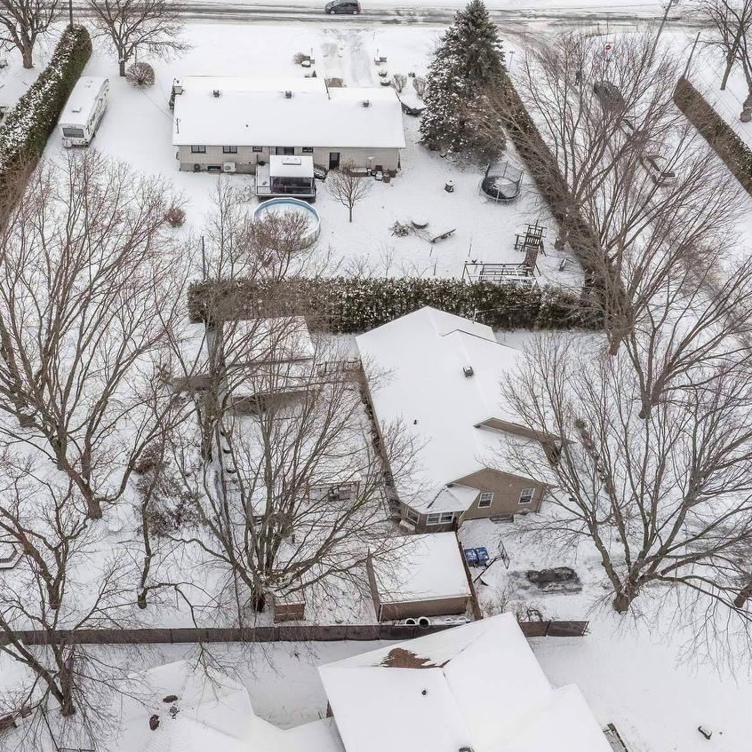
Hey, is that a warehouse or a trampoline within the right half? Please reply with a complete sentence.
Visible within the right half is a trampoline.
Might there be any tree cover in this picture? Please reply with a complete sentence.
Yes, there's tree cover in this view.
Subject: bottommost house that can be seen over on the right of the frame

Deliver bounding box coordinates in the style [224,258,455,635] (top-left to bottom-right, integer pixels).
[318,614,615,752]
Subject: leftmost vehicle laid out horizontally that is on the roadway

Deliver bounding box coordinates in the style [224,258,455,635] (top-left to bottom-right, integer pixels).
[323,0,358,14]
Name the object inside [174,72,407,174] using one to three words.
house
